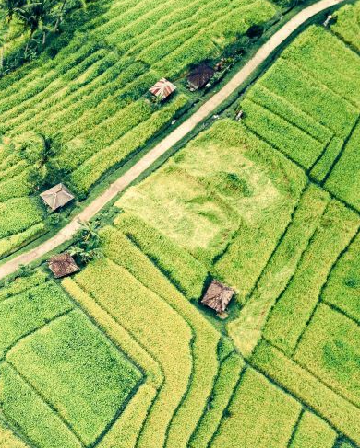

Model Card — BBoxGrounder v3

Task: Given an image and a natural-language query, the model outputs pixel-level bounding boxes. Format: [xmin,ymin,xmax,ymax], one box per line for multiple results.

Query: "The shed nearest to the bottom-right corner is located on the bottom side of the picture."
[201,279,236,315]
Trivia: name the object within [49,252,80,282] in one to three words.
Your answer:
shed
